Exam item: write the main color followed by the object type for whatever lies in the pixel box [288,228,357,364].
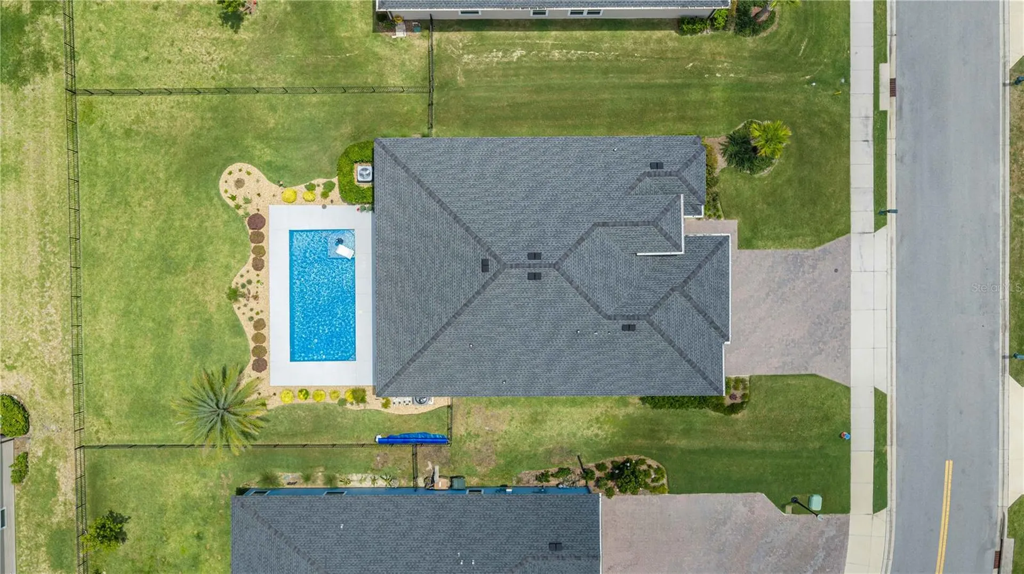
blue swimming pool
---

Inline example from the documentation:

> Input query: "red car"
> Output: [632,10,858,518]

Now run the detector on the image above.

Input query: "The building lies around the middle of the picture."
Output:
[374,135,728,397]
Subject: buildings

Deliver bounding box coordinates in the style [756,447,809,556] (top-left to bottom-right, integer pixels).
[230,488,601,574]
[374,135,728,397]
[375,0,731,23]
[0,438,16,574]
